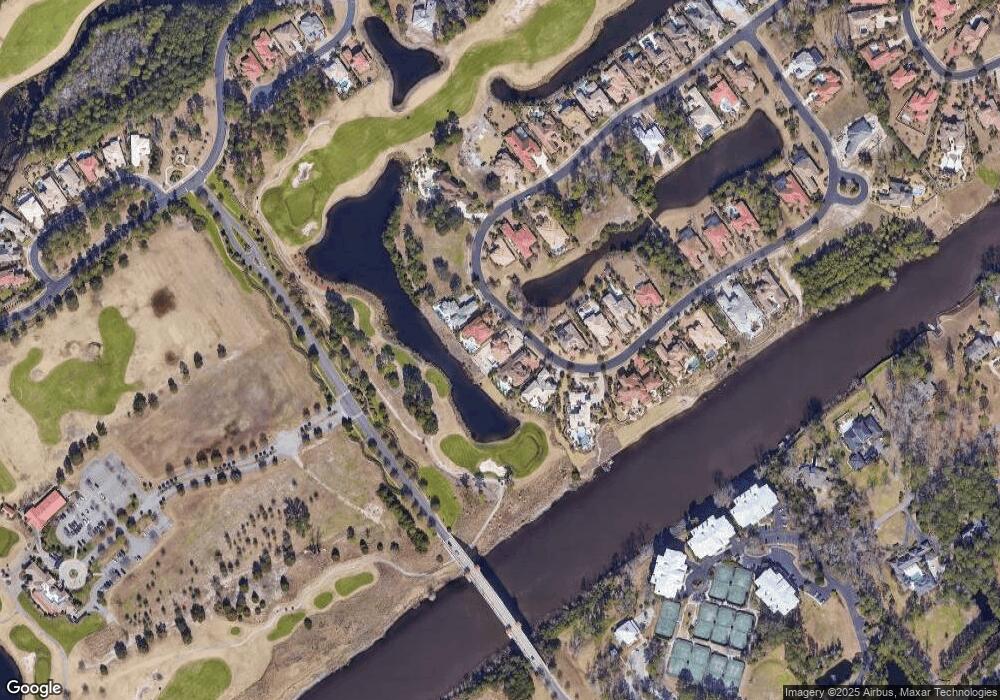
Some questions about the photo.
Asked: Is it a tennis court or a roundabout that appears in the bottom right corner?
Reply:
tennis court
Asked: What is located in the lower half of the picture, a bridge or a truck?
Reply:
bridge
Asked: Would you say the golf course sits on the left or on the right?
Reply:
left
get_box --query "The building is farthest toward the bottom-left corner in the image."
[27,563,77,615]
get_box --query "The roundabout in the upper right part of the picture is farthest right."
[830,168,868,206]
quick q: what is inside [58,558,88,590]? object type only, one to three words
roundabout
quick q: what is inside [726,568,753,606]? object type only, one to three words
tennis court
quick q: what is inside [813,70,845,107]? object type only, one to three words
house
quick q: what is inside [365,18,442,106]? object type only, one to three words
pond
